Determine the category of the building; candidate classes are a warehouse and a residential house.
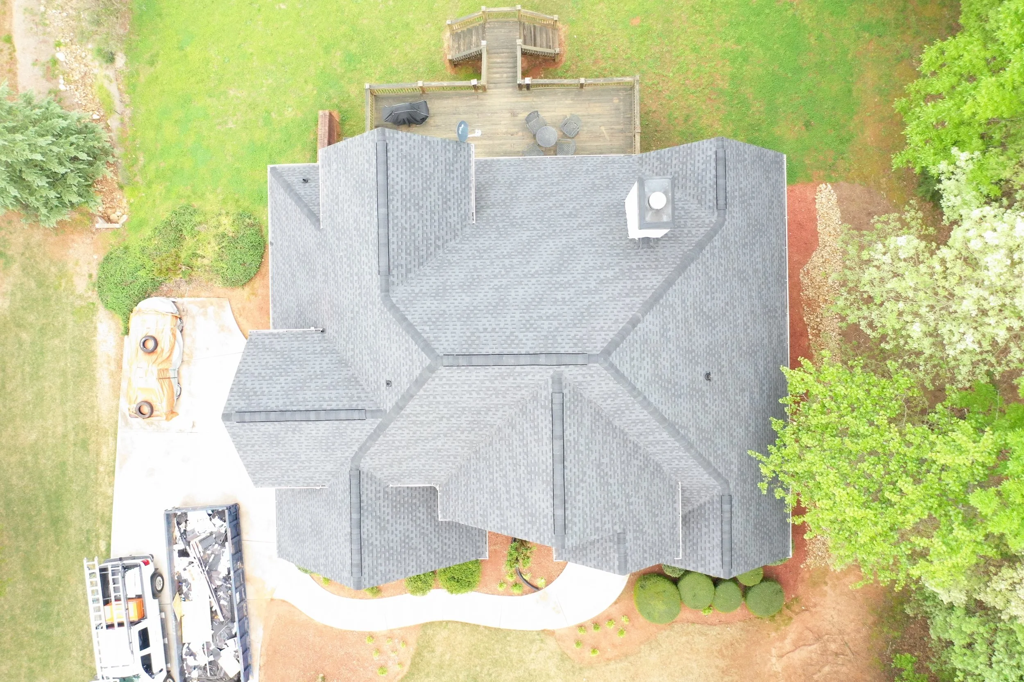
residential house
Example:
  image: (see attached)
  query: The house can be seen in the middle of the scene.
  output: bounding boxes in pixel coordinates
[222,127,793,591]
